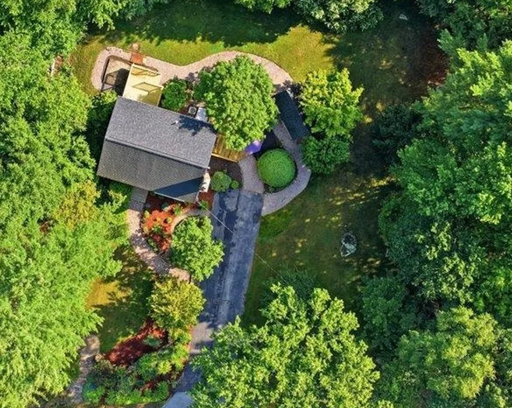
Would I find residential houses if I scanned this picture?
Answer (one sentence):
Yes, the picture does show a residential house.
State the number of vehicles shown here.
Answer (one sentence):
The photo contains no vehicles.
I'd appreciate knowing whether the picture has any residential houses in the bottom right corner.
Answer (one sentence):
No, in the bottom right corner there is no residential house.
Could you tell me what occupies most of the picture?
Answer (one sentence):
The largest share of the image is taken up by trees.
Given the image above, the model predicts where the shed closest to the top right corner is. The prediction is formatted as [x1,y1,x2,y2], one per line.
[274,89,311,140]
